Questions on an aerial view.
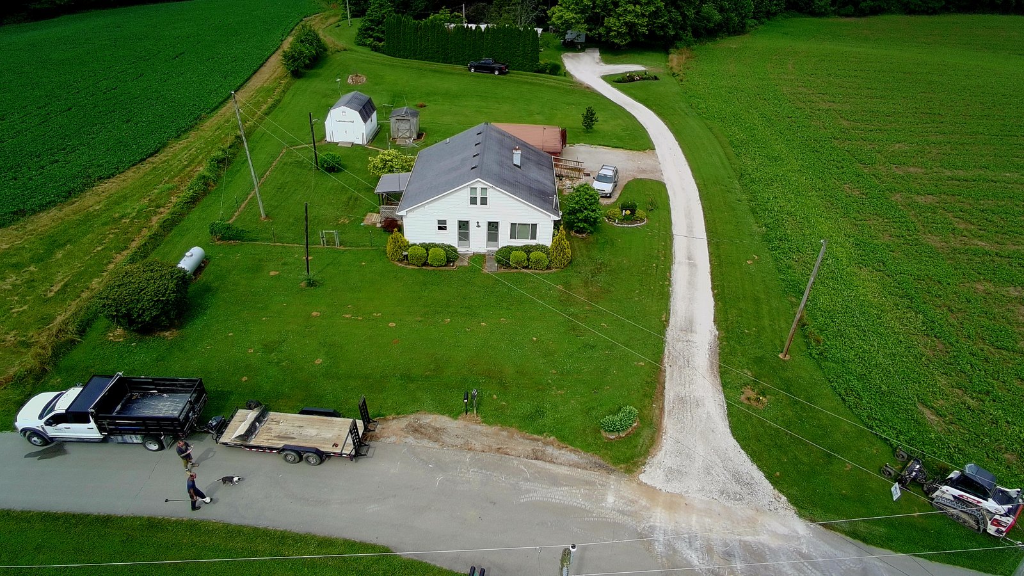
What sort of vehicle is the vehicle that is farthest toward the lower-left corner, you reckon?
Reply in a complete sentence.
The vehicle that is farthest toward the lower-left corner in the image is a truck.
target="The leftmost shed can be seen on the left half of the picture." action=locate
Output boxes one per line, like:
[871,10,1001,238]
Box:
[322,95,376,146]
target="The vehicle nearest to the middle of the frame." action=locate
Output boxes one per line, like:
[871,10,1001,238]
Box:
[590,165,621,198]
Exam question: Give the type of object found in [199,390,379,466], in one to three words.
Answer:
trailer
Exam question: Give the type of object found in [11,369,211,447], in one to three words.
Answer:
truck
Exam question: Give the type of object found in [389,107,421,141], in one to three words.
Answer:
shed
